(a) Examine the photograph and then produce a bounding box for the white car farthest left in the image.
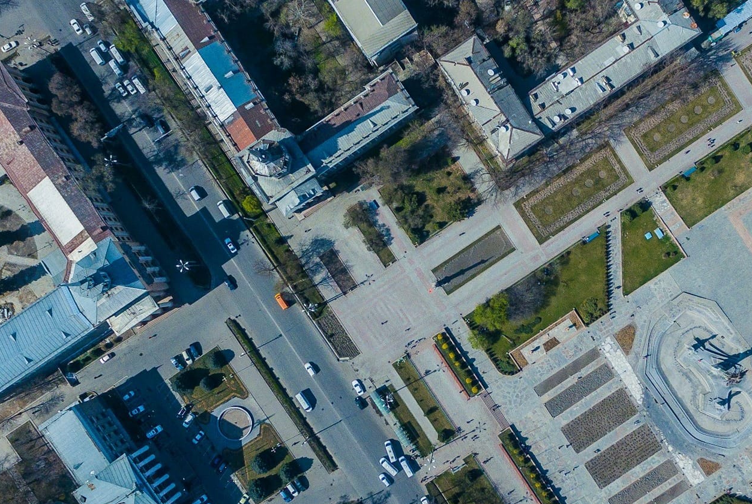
[1,41,19,54]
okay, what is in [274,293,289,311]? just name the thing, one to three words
vehicle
